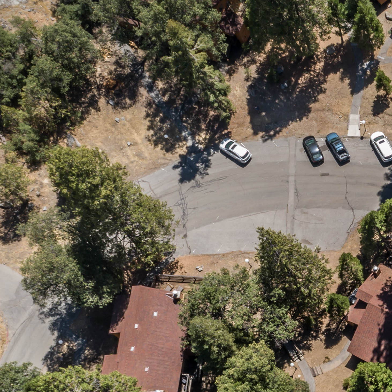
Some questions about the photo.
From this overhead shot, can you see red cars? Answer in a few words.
No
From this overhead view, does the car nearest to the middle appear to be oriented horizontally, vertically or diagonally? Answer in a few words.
diagonally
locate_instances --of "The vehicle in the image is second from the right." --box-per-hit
[326,130,351,166]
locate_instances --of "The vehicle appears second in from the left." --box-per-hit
[302,133,326,167]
